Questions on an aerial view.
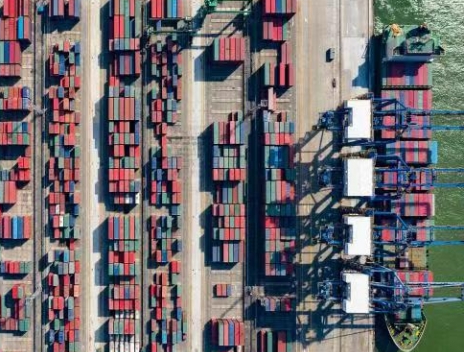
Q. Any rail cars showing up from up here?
No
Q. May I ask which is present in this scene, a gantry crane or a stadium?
gantry crane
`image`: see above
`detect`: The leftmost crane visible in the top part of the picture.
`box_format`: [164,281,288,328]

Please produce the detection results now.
[144,16,195,46]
